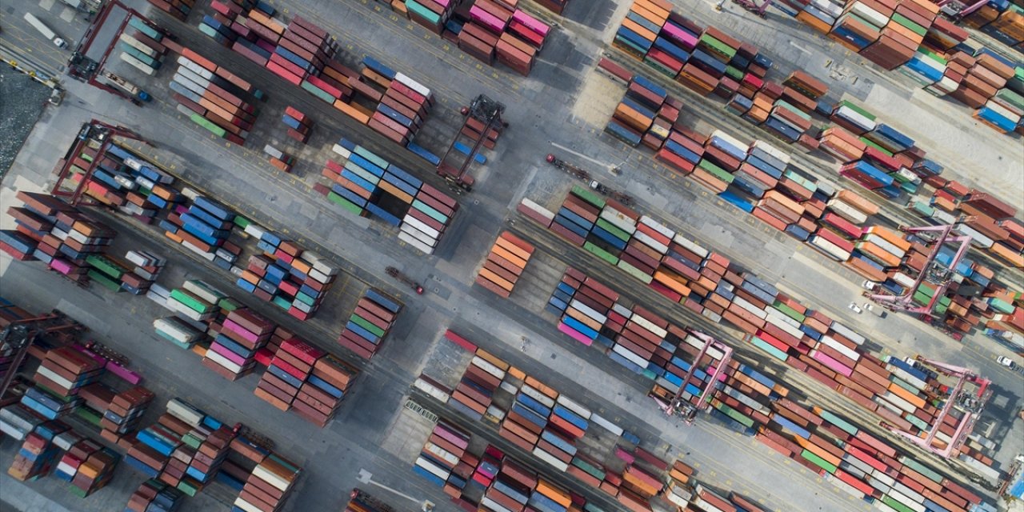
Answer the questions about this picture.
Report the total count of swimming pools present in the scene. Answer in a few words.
0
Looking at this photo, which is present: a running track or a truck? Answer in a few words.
truck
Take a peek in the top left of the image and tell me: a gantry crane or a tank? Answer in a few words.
gantry crane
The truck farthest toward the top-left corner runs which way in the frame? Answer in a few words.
at an angle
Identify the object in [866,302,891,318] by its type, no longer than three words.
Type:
vehicle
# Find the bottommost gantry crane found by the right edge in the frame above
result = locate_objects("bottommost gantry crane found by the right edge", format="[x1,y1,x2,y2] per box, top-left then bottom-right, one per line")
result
[877,354,993,461]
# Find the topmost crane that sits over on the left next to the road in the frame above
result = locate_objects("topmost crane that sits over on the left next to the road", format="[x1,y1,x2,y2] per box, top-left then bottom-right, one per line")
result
[59,0,179,108]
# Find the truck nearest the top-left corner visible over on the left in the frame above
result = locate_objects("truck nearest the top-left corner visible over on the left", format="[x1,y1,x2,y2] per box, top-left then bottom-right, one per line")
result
[24,11,71,53]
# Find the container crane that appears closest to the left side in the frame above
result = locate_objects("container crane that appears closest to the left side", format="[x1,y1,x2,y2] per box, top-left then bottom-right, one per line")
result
[0,307,92,409]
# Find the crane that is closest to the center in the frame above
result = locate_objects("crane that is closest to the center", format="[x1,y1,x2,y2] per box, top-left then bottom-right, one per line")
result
[431,88,512,196]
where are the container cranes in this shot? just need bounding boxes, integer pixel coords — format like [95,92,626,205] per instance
[59,0,179,108]
[642,324,738,428]
[860,222,977,315]
[737,0,779,20]
[877,354,993,461]
[431,88,512,196]
[43,116,163,222]
[0,307,92,409]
